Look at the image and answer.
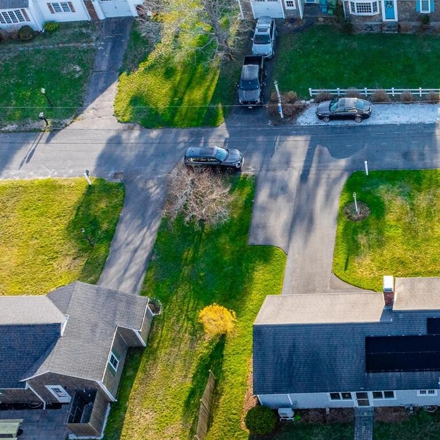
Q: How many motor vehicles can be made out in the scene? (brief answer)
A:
4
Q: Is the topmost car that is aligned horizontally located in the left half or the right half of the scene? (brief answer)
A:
right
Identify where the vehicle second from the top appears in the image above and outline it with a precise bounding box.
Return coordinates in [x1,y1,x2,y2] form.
[235,59,268,105]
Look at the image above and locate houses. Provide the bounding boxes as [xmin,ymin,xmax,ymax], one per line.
[252,274,440,415]
[0,281,153,410]
[238,0,440,36]
[0,0,153,33]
